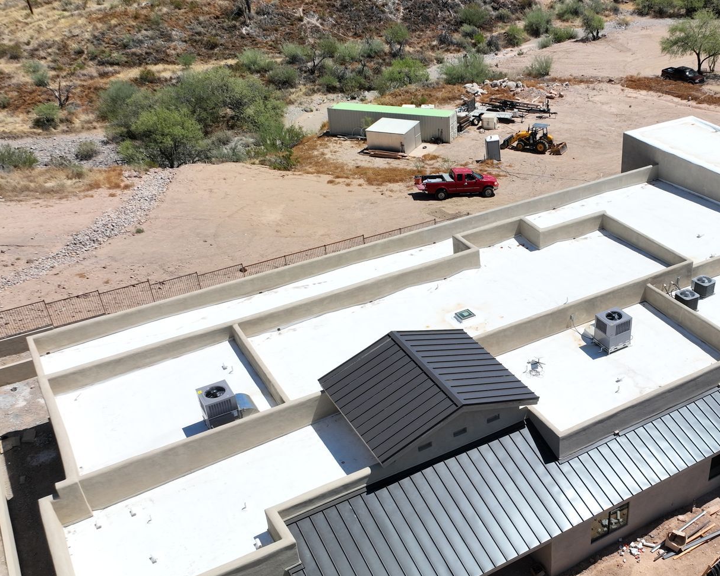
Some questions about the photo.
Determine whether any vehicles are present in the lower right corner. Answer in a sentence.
No, I can find no vehicle in the lower right corner.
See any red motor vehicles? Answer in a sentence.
Yes, there is a red motor vehicle in the image.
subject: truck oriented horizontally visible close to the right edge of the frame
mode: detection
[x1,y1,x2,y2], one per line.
[659,64,716,86]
